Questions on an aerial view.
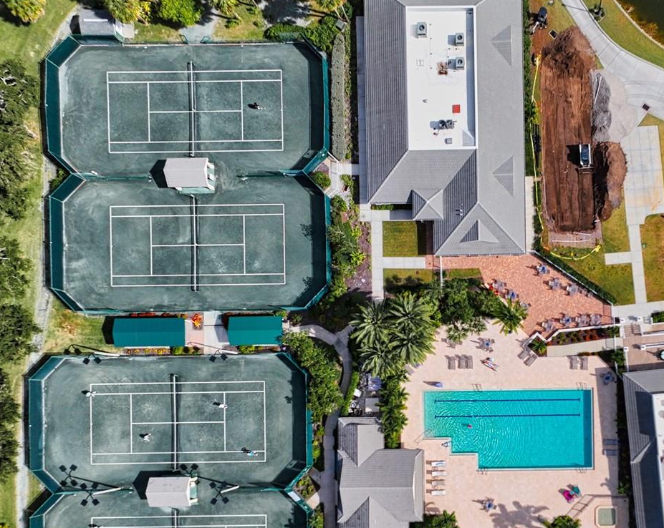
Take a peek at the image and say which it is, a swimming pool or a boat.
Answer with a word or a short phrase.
swimming pool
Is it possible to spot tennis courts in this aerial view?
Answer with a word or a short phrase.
Yes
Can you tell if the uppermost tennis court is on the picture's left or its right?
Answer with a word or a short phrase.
left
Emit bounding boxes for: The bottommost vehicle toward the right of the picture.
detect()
[577,144,592,172]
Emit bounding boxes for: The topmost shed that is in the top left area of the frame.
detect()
[75,9,123,41]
